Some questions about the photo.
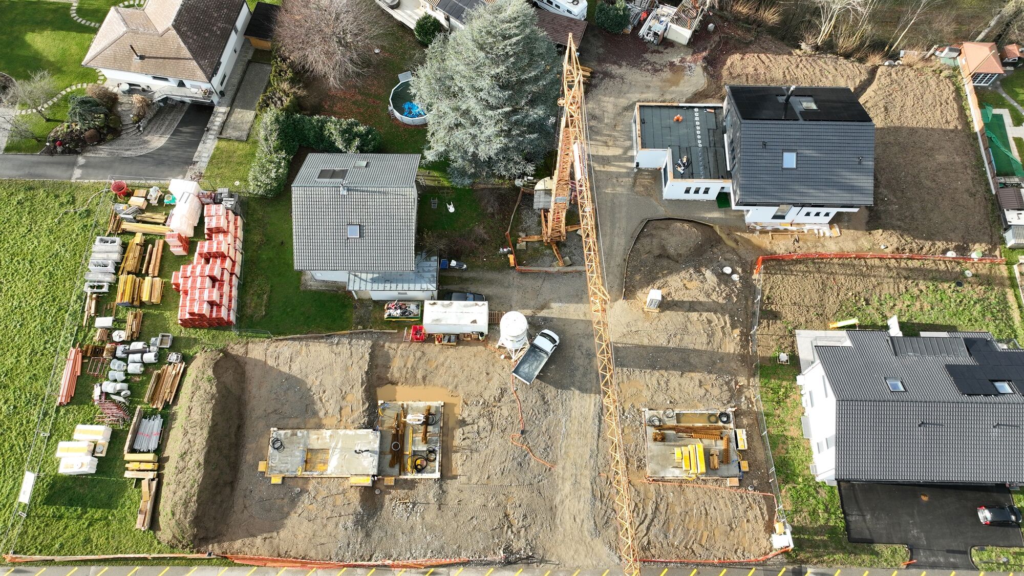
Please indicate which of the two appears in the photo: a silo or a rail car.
silo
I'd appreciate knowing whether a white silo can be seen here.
Yes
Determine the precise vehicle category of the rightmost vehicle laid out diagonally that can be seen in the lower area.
truck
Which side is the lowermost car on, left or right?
right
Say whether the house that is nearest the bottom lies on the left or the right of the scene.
right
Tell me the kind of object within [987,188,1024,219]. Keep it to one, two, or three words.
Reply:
shed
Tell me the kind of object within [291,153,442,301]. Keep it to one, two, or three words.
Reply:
house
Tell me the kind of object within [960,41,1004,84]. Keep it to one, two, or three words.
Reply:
building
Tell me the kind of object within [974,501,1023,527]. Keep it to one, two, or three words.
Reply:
car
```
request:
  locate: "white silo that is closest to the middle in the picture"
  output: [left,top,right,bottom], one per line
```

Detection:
[495,312,530,368]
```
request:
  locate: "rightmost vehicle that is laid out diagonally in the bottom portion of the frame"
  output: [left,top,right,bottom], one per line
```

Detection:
[509,331,560,389]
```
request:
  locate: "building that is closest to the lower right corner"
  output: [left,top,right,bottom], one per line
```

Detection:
[795,315,1024,487]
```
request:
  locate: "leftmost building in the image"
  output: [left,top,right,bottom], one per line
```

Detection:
[81,0,258,110]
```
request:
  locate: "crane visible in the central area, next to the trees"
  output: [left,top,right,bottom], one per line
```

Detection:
[520,32,647,576]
